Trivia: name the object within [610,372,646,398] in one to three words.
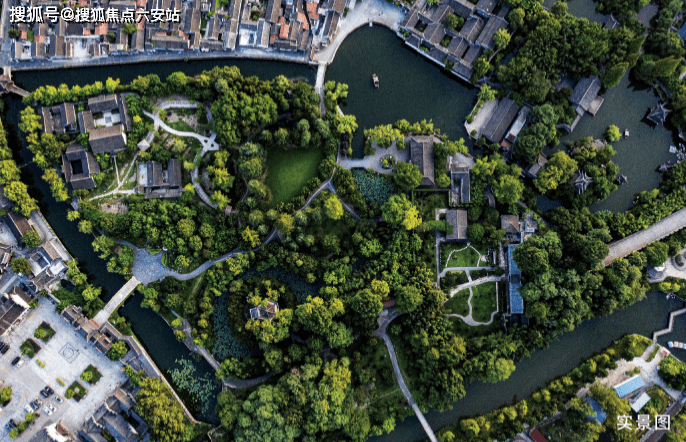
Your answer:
shed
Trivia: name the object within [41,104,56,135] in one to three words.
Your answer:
building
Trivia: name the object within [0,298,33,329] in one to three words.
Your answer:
house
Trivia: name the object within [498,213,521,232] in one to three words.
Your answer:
building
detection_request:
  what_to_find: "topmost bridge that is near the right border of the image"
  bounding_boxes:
[606,207,686,267]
